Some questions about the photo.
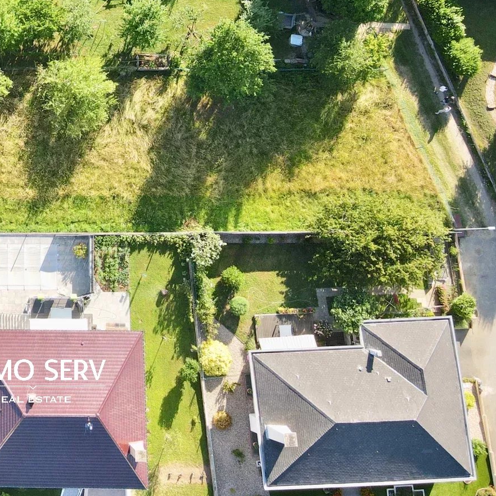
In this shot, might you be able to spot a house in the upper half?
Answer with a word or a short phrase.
No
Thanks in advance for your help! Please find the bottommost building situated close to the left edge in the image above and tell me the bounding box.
[0,328,151,490]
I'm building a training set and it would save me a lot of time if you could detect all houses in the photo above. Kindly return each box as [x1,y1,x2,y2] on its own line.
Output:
[0,328,151,490]
[242,311,481,494]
